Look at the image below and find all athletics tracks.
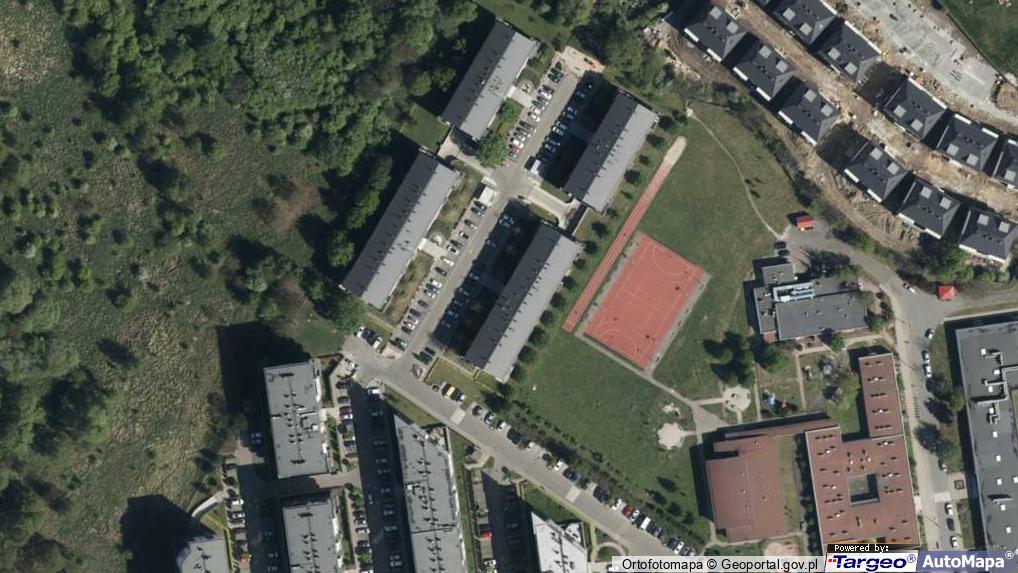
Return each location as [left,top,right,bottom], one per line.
[563,135,686,332]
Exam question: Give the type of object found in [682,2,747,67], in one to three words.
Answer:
house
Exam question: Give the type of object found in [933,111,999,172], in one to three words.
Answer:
house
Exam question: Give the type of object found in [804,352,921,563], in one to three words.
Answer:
building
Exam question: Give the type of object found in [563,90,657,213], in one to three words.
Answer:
building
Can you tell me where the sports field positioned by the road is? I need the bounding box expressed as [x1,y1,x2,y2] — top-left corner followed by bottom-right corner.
[502,104,784,535]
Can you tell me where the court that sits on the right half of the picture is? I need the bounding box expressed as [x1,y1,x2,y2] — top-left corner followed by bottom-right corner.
[576,231,709,377]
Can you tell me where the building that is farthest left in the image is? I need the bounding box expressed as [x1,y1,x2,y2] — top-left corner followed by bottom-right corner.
[178,531,238,573]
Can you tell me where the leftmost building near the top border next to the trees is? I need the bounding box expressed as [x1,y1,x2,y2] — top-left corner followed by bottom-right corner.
[441,18,536,142]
